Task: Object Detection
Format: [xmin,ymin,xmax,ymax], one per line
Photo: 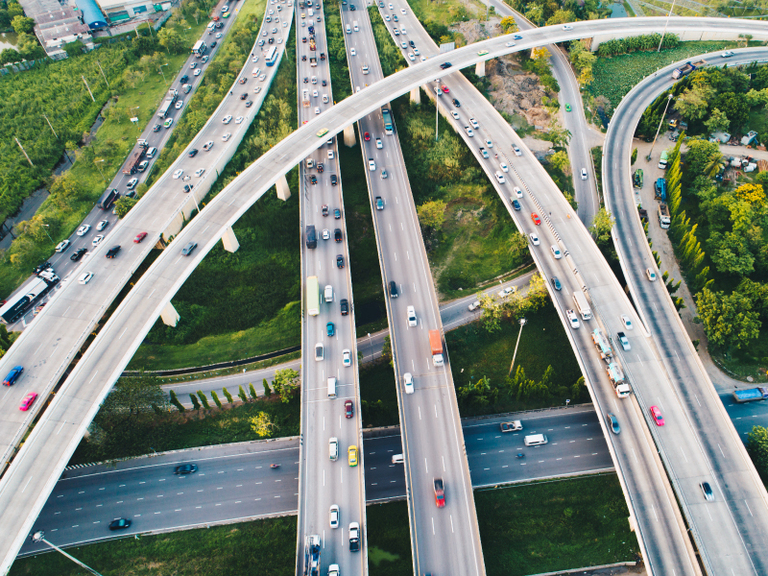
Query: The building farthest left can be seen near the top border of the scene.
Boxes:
[17,0,90,59]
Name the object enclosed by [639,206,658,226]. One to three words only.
vehicle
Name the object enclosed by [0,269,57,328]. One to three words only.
truck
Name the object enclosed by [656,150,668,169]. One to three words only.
vehicle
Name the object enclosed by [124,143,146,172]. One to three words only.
truck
